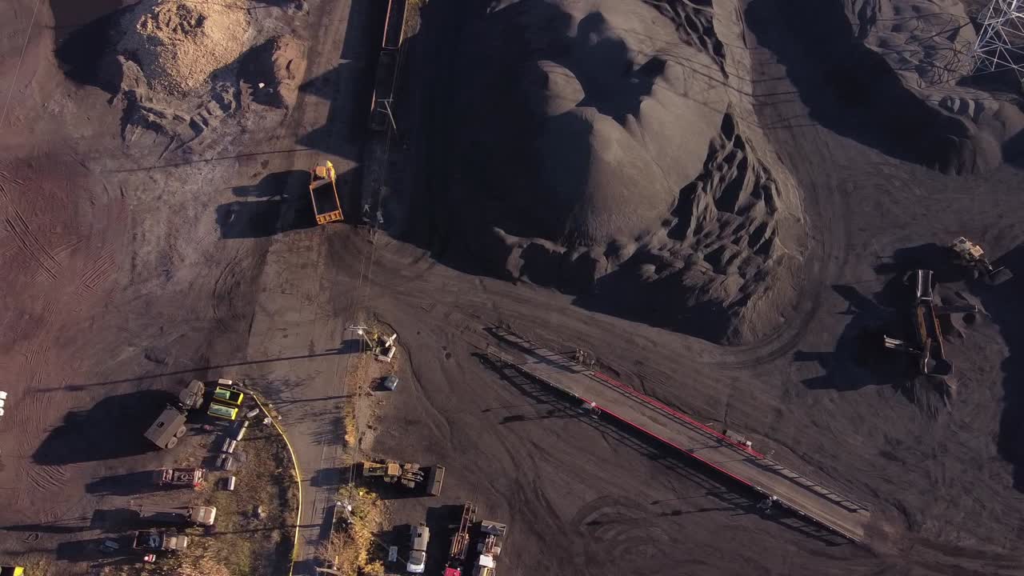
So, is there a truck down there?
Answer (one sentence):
Yes, a truck can be made out from above.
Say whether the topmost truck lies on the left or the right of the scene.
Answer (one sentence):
The topmost truck sits on the left side.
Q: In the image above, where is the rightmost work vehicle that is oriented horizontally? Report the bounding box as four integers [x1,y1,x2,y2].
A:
[366,461,450,503]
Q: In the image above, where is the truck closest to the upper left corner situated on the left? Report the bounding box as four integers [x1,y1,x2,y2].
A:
[306,162,344,229]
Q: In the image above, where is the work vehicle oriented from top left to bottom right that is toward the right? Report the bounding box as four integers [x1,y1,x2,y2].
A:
[945,235,1018,295]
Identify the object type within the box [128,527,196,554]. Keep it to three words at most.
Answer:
truck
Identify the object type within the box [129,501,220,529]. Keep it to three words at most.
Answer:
truck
